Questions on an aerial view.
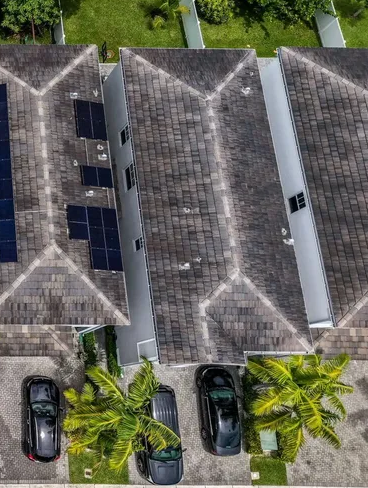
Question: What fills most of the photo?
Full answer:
The bulk of the photo consists of buildings.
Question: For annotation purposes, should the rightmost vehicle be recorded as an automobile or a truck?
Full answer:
Specifically, the rightmost vehicle is an automobile.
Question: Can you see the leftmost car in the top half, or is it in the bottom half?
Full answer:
The bottom half of the photo is where the leftmost car is.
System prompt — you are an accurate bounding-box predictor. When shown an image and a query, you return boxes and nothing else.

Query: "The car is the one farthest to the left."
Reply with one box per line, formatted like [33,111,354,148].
[21,376,65,466]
